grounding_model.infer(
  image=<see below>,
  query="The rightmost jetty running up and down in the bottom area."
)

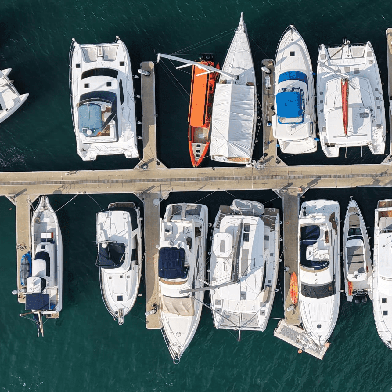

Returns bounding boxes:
[271,188,309,324]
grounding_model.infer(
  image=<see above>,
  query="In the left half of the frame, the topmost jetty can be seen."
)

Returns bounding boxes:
[134,62,168,169]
